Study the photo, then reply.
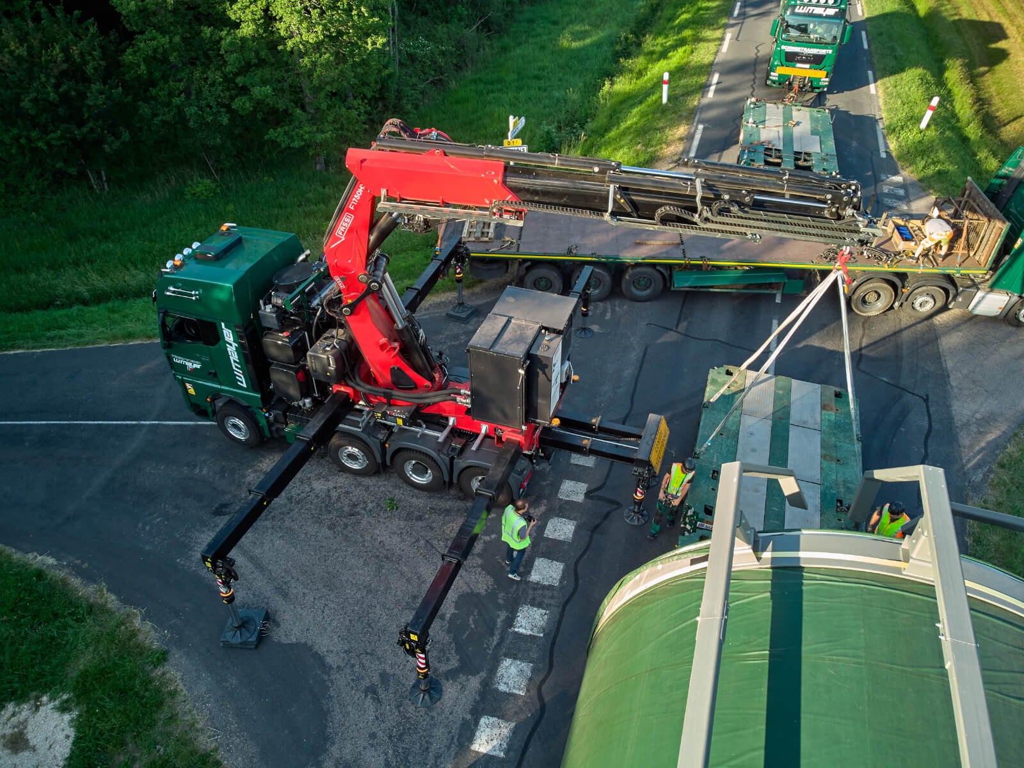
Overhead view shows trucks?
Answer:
Yes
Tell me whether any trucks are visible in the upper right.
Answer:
Yes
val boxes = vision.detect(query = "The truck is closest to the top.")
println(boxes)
[767,0,859,93]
